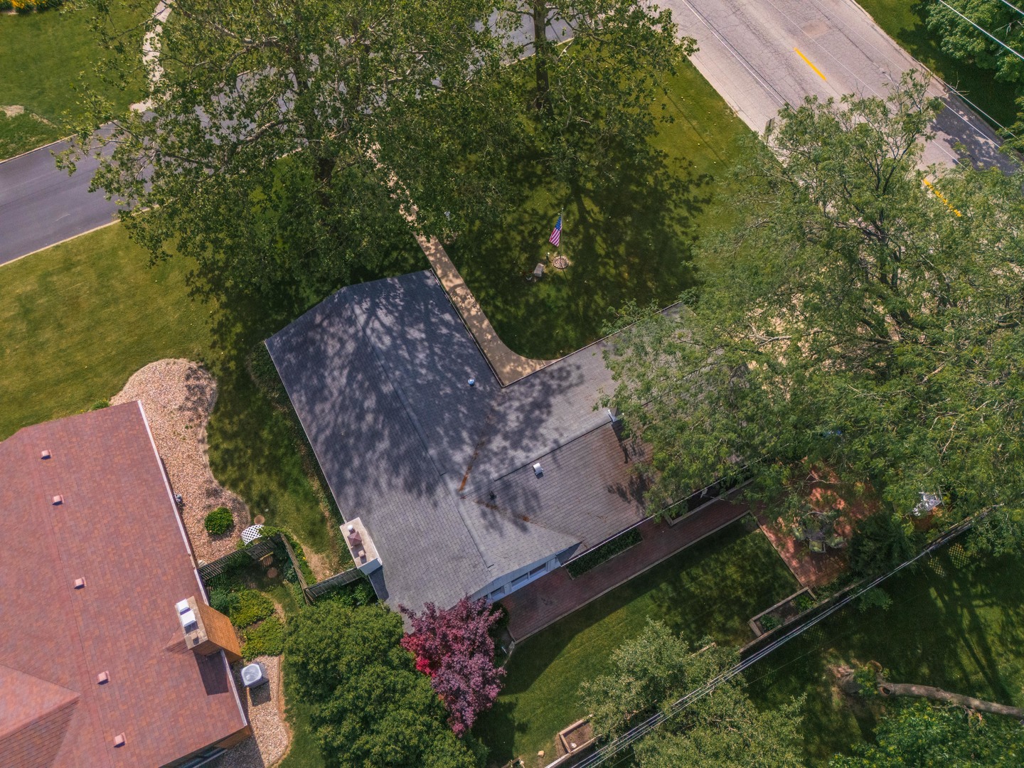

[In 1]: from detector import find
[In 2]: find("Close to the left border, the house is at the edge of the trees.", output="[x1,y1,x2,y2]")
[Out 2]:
[0,399,255,768]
